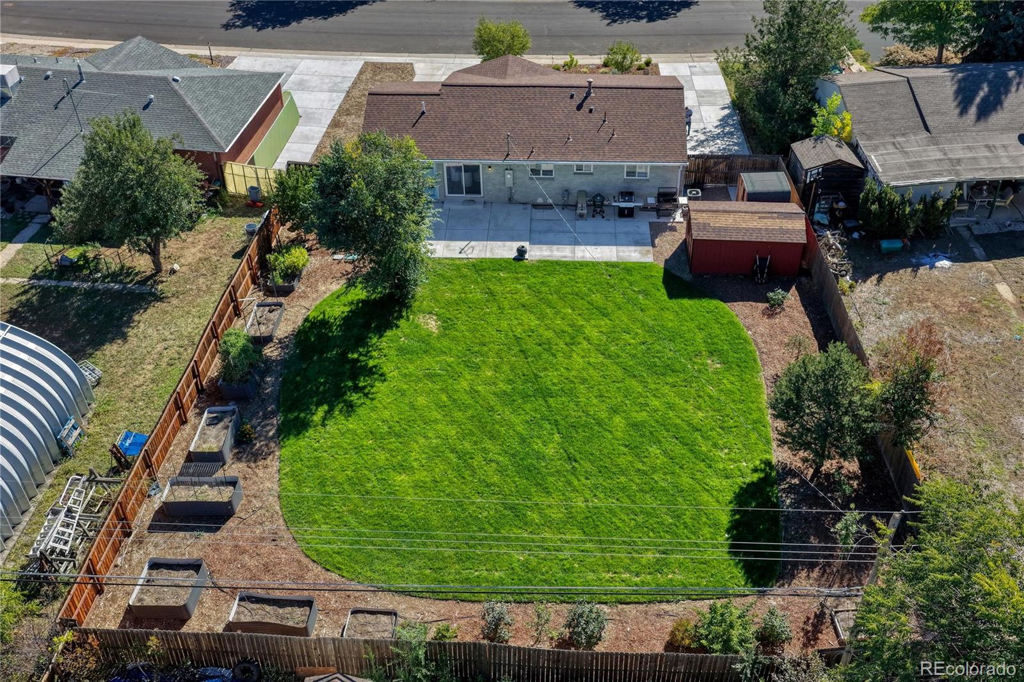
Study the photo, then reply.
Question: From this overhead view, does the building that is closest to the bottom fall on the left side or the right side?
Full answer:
The building that is closest to the bottom appears in the left half of the scene.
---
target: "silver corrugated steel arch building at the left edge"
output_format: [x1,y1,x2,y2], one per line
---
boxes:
[0,324,105,566]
